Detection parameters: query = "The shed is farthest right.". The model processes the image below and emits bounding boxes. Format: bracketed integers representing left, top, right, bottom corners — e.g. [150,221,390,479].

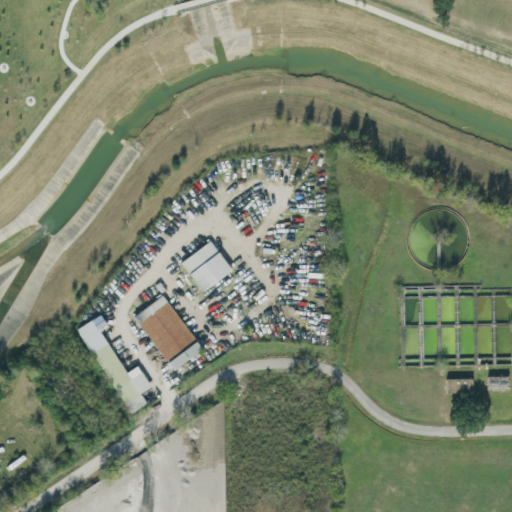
[488,378,510,392]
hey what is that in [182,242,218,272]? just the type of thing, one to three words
building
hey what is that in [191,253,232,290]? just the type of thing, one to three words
building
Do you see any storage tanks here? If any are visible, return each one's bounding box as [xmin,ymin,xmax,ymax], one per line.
[408,208,470,270]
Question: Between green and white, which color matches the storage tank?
green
